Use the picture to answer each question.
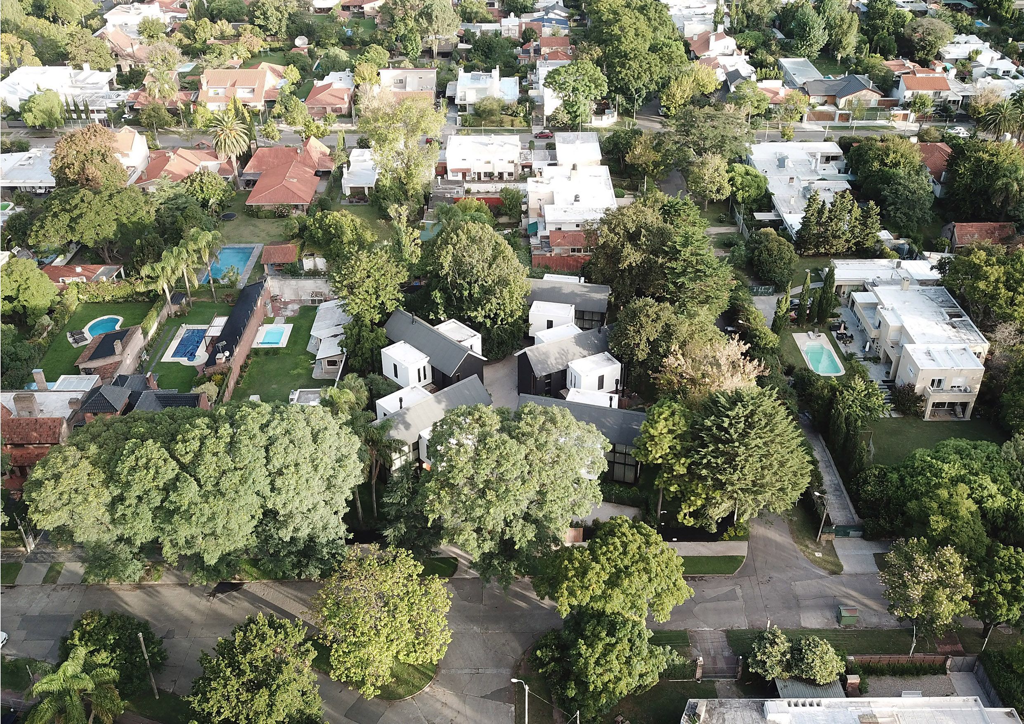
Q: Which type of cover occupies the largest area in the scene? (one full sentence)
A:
For the most part, this view shows trees.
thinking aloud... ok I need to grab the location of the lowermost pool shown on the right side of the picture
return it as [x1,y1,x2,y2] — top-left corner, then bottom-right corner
[792,332,840,375]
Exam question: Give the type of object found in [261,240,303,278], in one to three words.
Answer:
building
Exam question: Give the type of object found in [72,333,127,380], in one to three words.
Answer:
shed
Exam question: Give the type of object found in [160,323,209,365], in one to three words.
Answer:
swimming pool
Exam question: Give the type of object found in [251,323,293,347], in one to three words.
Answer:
swimming pool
